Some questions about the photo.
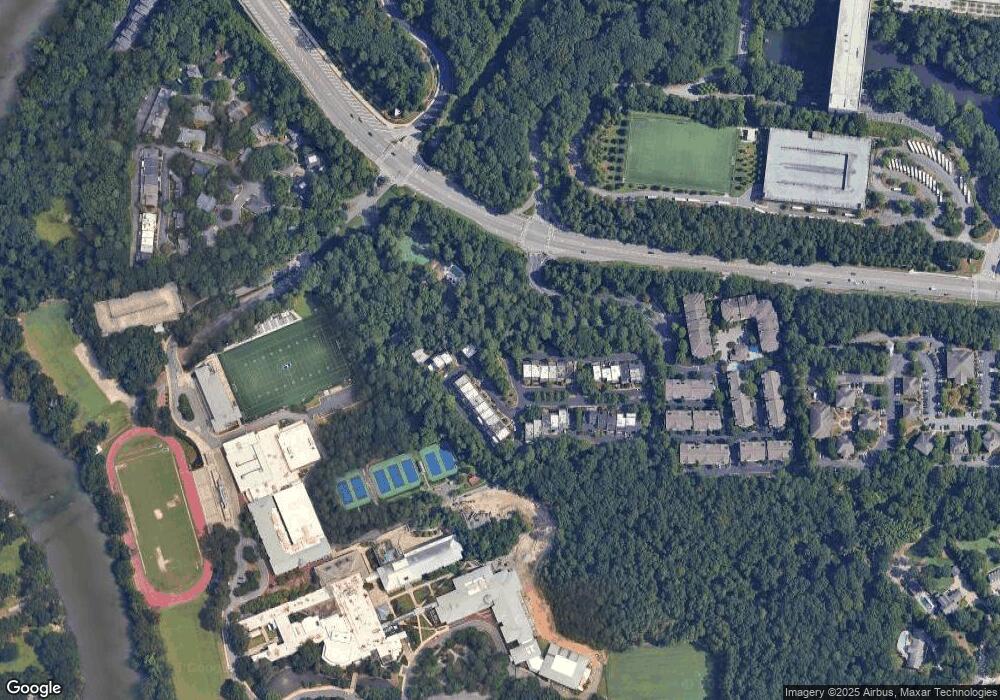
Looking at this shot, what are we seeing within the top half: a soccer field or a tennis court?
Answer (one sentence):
Visible within the top half is a soccer field.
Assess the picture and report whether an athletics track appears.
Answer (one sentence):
Yes, an athletics track is visible in the scene.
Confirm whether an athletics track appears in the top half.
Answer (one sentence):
No, no athletics track is visible in the top half.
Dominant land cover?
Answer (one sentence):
The scene is dominated by trees.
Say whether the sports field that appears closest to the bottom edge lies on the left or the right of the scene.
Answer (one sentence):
The sports field that appears closest to the bottom edge sits on the right side.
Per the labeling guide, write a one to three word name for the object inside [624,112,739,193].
soccer field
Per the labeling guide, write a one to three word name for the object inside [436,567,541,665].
building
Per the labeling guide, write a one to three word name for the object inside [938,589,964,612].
house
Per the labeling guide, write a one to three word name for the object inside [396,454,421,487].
tennis court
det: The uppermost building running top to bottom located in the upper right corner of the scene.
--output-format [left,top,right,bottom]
[829,0,872,110]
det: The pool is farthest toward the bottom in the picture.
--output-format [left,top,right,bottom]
[897,631,911,660]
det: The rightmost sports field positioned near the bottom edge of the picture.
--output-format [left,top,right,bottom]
[604,642,711,700]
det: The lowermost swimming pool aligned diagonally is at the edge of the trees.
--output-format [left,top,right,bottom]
[918,593,935,614]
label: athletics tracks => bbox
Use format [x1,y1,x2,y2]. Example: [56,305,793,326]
[107,422,212,603]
